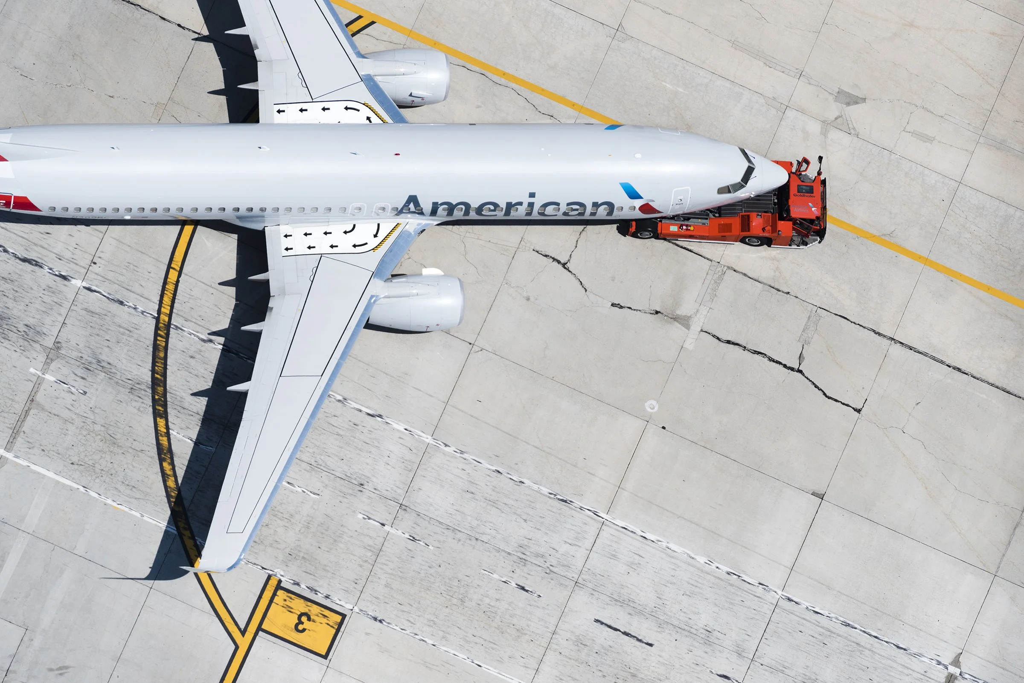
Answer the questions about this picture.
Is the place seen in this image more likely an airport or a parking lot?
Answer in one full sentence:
This image shows an airport.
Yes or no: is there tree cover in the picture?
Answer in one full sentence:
No, the scene doesn't show any tree cover.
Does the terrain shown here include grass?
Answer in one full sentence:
No, there's no grass in this view.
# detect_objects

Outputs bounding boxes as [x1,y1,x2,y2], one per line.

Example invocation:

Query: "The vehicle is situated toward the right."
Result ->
[616,152,827,247]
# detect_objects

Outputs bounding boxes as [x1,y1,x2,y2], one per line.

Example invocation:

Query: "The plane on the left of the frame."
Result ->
[0,0,786,570]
